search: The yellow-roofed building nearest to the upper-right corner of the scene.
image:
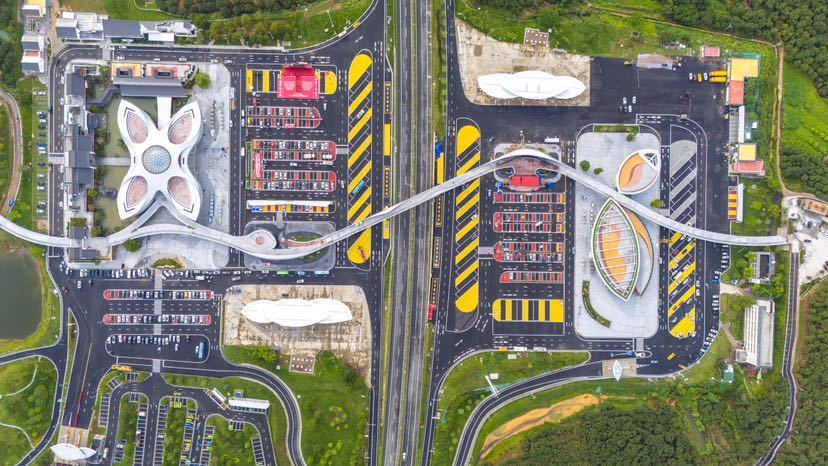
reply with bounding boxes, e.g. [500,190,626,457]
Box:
[726,58,758,79]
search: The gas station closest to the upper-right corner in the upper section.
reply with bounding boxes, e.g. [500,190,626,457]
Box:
[477,71,585,100]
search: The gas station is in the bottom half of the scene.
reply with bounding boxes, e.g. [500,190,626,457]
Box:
[241,299,353,328]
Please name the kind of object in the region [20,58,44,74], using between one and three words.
house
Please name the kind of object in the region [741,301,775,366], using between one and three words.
building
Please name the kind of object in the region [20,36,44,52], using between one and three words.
house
